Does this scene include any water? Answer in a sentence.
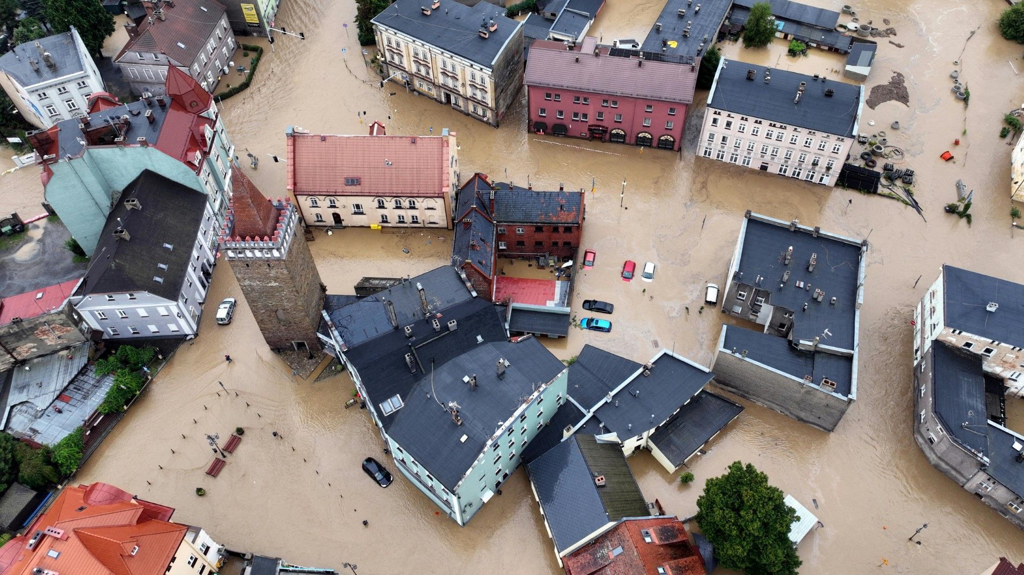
Yes, the picture does contain water.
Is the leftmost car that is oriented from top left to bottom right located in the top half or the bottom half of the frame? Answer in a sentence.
You can find the leftmost car that is oriented from top left to bottom right in the bottom half.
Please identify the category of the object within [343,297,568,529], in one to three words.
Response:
house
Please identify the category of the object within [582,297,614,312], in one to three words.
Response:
car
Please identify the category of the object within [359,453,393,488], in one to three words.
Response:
car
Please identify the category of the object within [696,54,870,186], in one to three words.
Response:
building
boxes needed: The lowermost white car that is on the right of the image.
[705,283,720,306]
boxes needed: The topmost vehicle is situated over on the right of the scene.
[615,35,641,49]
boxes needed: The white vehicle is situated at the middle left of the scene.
[214,296,236,324]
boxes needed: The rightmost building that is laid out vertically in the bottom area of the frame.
[913,265,1024,541]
